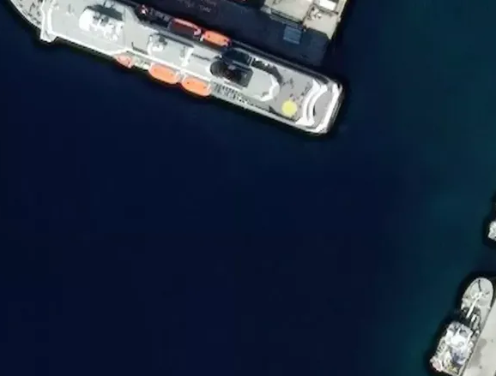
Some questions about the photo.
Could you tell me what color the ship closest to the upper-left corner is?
white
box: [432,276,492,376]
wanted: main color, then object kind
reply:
white vessel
